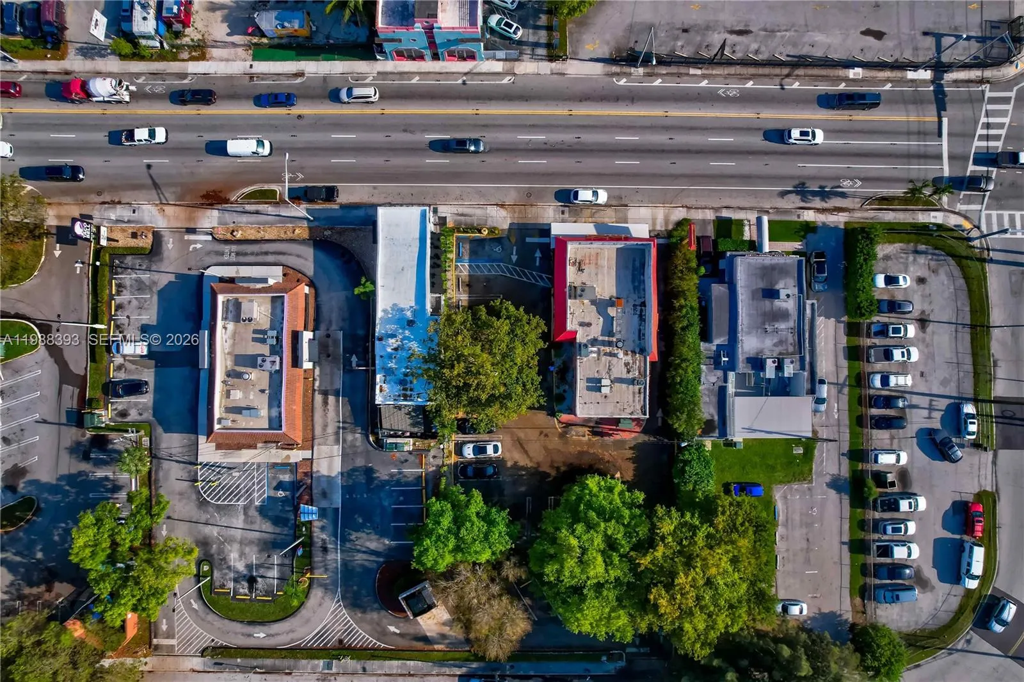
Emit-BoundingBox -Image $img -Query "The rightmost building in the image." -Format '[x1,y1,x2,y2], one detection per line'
[694,246,816,439]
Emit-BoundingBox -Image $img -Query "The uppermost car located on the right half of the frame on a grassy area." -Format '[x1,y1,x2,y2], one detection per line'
[731,481,764,498]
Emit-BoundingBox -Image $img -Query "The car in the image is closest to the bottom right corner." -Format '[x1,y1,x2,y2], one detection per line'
[985,595,1018,633]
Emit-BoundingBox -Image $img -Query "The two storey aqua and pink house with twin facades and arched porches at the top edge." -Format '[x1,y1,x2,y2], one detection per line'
[377,0,487,64]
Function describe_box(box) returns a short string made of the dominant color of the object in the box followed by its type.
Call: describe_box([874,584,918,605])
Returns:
blue car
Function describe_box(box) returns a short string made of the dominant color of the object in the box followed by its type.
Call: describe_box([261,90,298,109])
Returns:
blue car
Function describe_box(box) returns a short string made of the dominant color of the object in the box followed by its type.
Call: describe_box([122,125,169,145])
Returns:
white vehicle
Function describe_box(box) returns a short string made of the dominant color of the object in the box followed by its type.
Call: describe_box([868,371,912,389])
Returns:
white car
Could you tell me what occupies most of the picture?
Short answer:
paved ground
